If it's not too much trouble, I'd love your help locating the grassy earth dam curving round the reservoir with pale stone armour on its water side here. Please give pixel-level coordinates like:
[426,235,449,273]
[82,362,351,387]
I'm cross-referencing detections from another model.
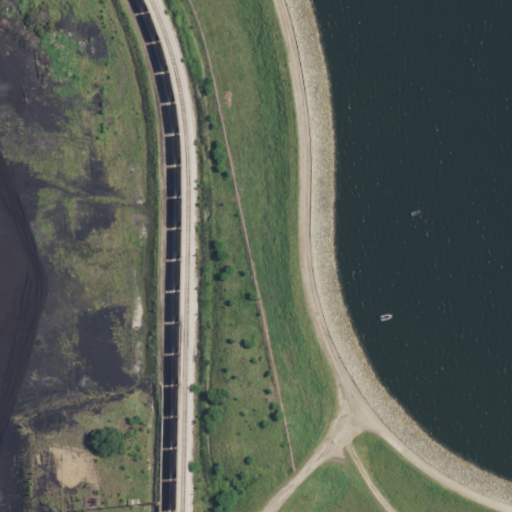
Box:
[226,0,512,512]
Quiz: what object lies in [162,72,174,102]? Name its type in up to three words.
rail car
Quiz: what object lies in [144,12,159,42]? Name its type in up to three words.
rail car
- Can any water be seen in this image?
Yes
